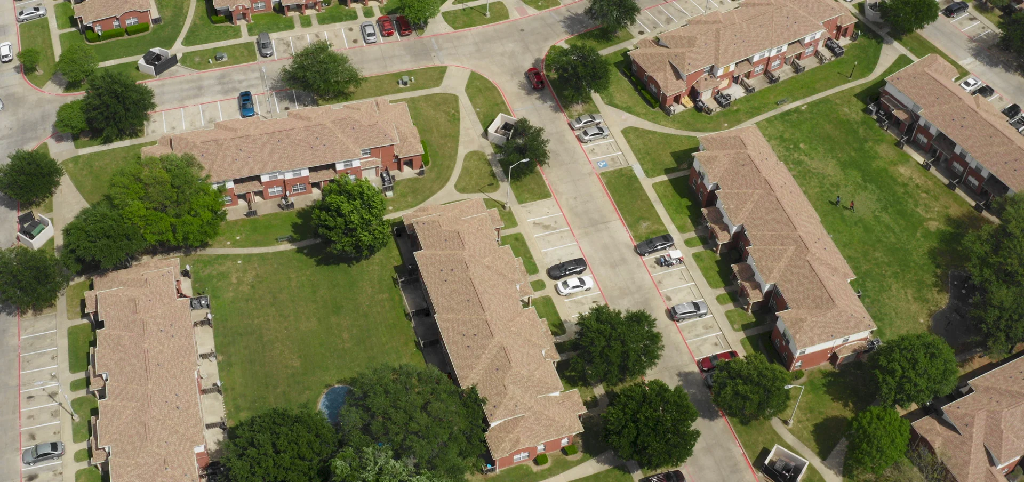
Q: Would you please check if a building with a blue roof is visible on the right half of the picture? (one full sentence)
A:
No, the scene shows no building with a blue roof on the right half of the picture.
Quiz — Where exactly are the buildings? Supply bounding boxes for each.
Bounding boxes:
[85,258,214,482]
[141,96,426,210]
[909,356,1024,482]
[879,53,1024,214]
[691,124,877,370]
[626,0,869,108]
[401,198,586,471]
[68,0,159,30]
[213,0,327,24]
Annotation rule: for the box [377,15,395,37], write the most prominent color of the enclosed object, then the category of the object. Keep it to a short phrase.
red car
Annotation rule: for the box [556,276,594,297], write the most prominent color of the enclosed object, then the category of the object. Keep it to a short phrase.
white car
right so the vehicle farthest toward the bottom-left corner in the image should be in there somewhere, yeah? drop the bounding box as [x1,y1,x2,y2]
[22,440,66,464]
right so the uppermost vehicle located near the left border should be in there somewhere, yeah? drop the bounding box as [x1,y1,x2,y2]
[15,7,49,23]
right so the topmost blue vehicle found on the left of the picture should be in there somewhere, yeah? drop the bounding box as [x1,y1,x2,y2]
[239,91,255,117]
